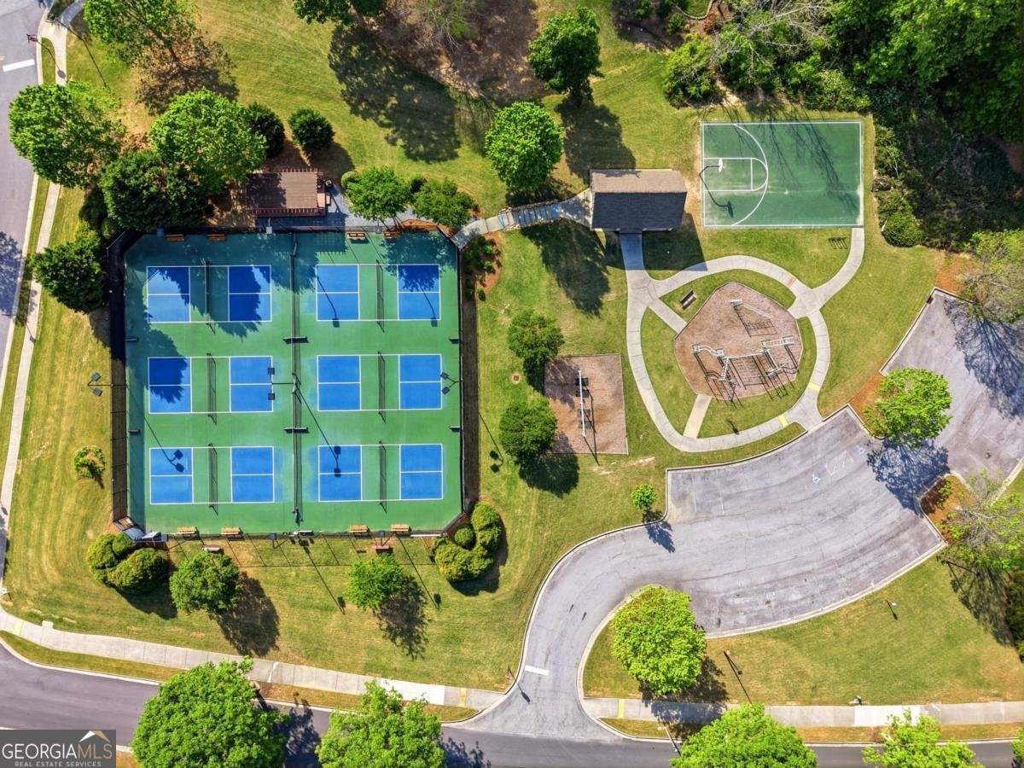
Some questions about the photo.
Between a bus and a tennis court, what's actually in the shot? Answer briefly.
tennis court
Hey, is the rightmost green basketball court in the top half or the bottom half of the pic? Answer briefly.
top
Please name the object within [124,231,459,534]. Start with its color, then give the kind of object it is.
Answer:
green tennis court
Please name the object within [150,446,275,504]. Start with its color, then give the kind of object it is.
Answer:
blue sports court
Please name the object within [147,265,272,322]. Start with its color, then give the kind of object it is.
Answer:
blue sports court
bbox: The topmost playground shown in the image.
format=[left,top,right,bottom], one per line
[674,282,804,400]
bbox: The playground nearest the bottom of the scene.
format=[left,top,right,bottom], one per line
[544,353,629,455]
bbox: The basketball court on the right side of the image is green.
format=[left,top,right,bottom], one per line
[701,121,864,229]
